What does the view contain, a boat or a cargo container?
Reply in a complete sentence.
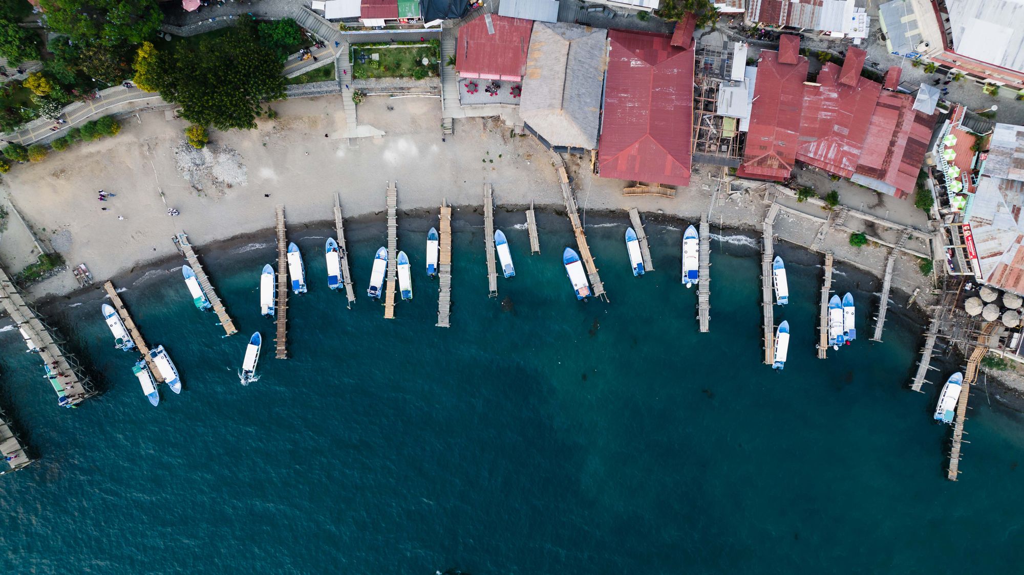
Of the two, only a boat appears.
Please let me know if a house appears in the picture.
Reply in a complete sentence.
Yes, there is a house in the image.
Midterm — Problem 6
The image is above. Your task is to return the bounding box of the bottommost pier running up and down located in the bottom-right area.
[943,365,981,481]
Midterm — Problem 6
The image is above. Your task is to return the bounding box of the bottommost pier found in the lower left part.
[0,384,47,472]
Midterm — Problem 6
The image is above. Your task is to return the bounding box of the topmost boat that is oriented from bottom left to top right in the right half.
[906,289,921,308]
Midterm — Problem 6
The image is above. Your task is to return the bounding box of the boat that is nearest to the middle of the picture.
[496,230,516,280]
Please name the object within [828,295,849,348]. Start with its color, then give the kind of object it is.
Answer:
white boat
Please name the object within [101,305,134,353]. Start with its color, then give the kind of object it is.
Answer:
white boat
